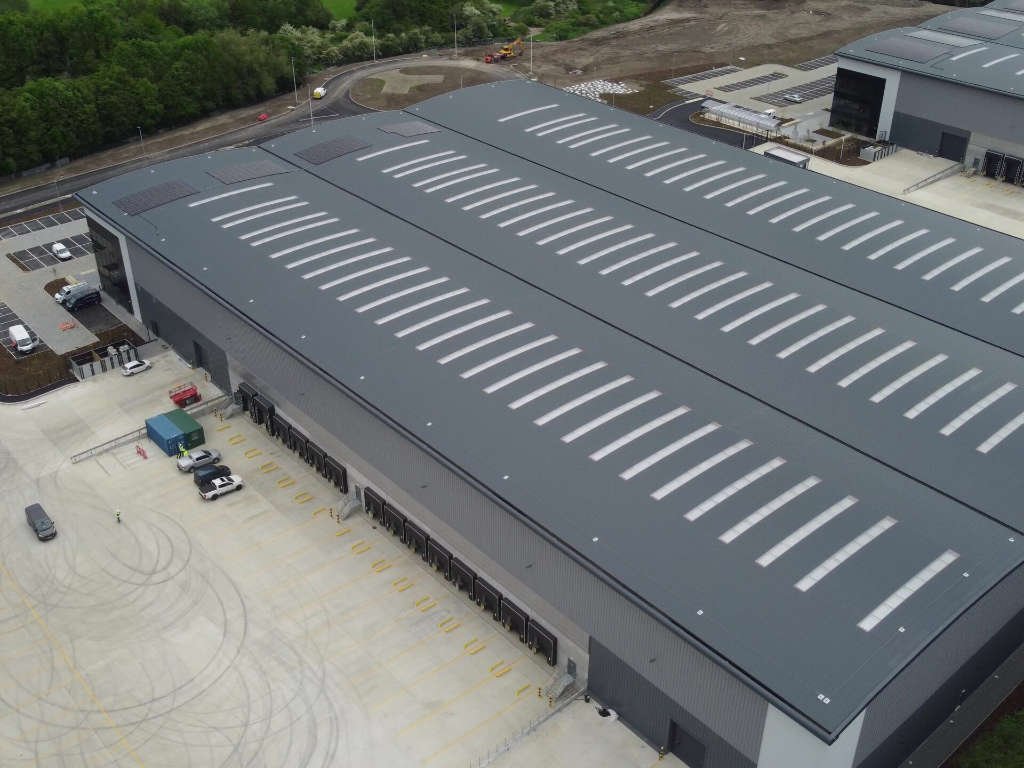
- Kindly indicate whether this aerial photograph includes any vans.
Yes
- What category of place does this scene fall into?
industrial area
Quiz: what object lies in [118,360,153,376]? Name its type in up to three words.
car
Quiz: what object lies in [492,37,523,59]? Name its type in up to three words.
work vehicle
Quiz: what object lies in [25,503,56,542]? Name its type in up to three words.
van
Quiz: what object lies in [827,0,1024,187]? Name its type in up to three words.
warehouse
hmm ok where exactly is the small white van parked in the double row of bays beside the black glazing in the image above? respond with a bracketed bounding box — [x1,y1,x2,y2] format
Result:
[51,239,72,257]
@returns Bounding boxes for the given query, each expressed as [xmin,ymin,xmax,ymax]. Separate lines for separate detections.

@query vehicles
[314,85,331,99]
[783,92,803,102]
[175,449,221,471]
[189,465,235,488]
[51,239,72,257]
[25,503,56,542]
[63,284,101,307]
[492,37,523,59]
[766,107,777,120]
[9,324,41,354]
[53,276,93,301]
[198,477,245,501]
[118,360,153,376]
